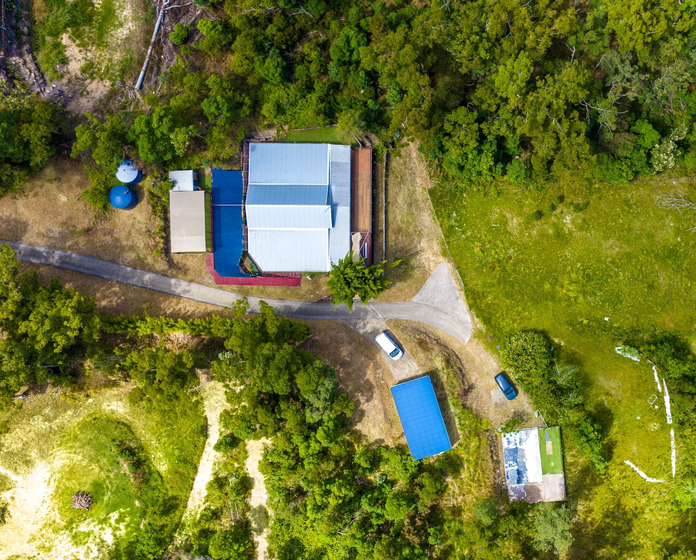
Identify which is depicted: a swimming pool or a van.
van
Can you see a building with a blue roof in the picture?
Yes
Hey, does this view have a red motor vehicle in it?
No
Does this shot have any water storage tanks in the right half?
No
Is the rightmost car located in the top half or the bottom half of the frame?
bottom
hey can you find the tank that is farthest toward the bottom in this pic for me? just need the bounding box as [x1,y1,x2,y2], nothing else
[109,186,140,210]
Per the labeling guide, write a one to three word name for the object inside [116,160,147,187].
water tank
